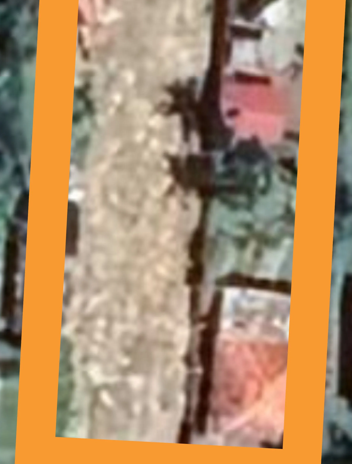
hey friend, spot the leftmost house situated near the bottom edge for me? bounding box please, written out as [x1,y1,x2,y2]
[216,336,323,445]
